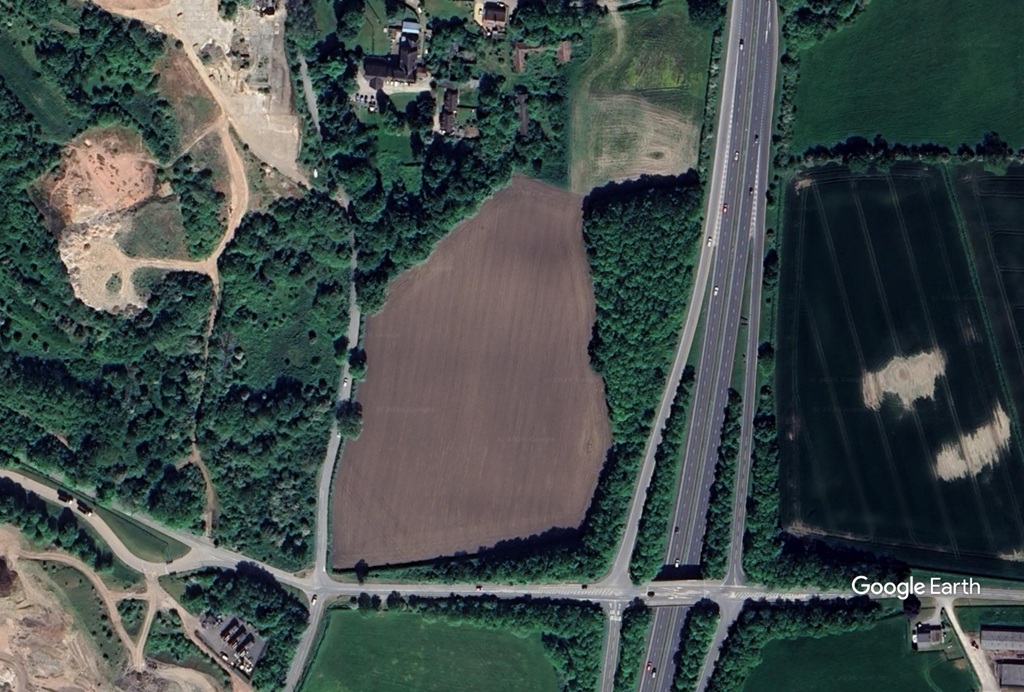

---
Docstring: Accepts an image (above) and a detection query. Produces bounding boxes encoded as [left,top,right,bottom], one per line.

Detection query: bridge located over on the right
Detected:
[644,581,710,605]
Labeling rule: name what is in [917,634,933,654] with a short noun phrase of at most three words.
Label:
house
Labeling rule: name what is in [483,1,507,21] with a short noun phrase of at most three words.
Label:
house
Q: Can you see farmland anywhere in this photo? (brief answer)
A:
Yes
